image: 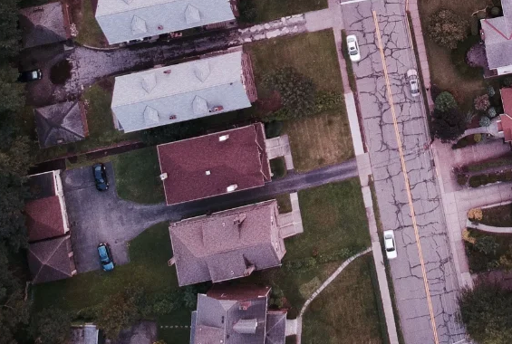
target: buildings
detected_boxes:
[190,285,289,344]
[30,230,84,285]
[93,0,238,45]
[19,1,78,49]
[109,46,256,133]
[156,122,294,206]
[479,0,512,79]
[24,167,75,242]
[34,98,95,148]
[168,195,303,287]
[70,320,104,344]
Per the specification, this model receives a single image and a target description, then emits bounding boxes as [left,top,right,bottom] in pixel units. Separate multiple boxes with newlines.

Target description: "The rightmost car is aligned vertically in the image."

[406,68,421,97]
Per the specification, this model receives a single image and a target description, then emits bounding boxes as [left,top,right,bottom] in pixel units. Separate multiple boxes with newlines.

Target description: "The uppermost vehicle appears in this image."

[345,33,361,63]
